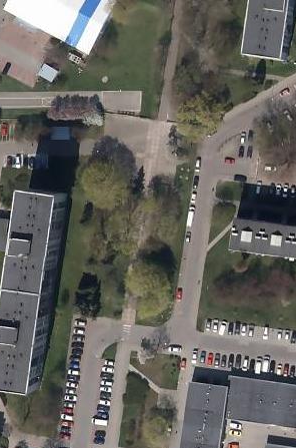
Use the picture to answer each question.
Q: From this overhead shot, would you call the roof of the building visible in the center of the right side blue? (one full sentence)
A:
No, the color of the roof of the building visible in the center of the right side is gray.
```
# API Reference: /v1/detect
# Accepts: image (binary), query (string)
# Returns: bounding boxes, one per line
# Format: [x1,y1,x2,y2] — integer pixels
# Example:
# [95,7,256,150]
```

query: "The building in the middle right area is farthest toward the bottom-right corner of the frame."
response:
[228,219,296,261]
